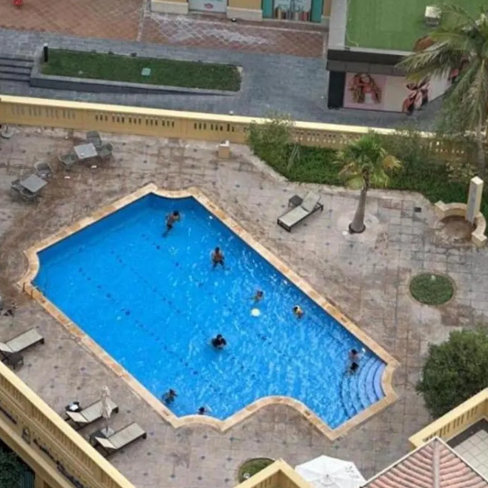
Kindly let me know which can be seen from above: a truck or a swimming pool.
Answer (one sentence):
There is a swimming pool in the scene.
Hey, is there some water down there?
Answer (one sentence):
Yes, some water is visible.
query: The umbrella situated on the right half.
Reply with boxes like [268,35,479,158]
[293,445,369,488]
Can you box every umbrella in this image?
[97,384,116,435]
[293,445,369,488]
